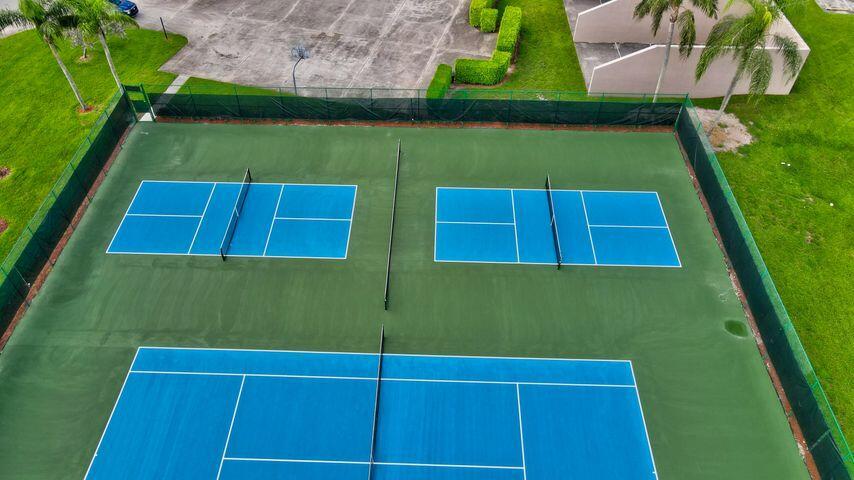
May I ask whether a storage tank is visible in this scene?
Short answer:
No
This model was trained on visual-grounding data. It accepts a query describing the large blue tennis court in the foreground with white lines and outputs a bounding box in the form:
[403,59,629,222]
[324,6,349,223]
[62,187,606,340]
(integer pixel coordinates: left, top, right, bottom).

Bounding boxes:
[85,348,657,480]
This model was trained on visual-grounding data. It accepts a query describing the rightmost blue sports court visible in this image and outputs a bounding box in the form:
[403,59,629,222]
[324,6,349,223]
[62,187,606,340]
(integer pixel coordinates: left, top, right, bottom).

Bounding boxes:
[435,188,681,267]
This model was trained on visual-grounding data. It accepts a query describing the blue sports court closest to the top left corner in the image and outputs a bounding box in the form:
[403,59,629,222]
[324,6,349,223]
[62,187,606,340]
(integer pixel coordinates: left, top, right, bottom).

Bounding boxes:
[106,181,358,258]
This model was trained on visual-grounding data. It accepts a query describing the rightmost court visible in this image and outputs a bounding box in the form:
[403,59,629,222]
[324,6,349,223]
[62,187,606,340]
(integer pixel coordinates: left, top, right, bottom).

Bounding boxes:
[561,0,811,100]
